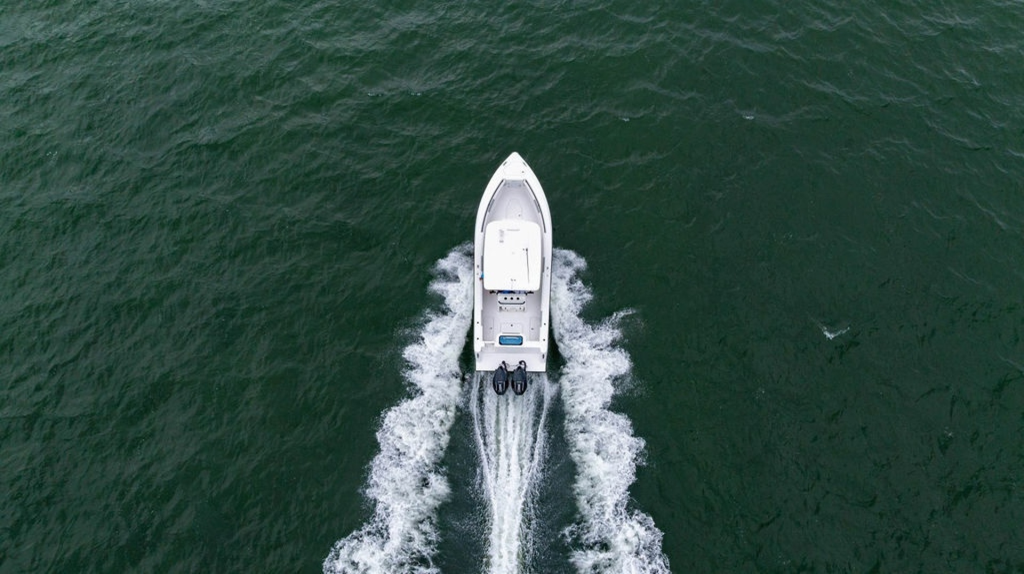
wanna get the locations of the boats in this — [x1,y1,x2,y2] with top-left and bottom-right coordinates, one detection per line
[472,151,553,398]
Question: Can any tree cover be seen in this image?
No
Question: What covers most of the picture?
water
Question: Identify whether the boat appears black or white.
white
